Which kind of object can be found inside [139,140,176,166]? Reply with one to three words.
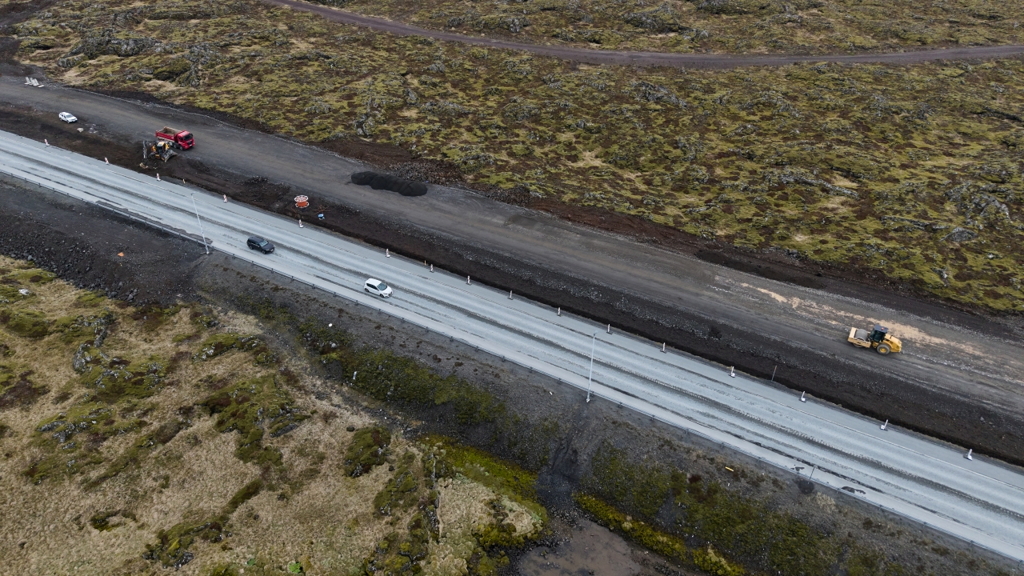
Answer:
work vehicle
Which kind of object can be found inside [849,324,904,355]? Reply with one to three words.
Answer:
work vehicle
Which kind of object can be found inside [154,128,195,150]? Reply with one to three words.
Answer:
truck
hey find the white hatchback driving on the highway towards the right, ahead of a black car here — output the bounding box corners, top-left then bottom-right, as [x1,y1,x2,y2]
[363,278,392,297]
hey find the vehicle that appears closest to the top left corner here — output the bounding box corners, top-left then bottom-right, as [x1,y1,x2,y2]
[58,111,77,123]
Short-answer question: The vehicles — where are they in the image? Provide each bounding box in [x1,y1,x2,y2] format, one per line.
[58,111,77,123]
[849,324,904,355]
[139,140,176,166]
[245,235,276,254]
[154,128,195,150]
[363,278,392,297]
